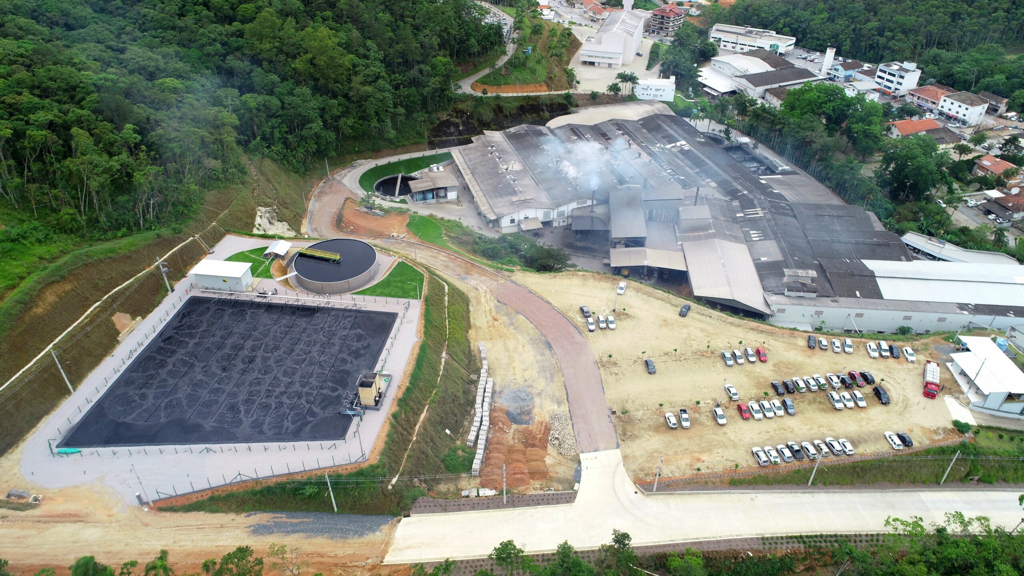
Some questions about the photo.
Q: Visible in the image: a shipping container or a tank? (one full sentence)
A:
Of the two, only a tank appears.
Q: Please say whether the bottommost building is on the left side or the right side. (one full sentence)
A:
The bottommost building is on the right side of the image.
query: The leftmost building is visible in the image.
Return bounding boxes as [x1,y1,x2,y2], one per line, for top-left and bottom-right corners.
[190,259,253,290]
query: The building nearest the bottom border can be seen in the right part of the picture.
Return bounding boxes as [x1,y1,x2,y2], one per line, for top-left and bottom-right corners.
[945,336,1024,405]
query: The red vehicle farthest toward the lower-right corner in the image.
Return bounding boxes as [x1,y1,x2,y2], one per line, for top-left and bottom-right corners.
[923,361,941,397]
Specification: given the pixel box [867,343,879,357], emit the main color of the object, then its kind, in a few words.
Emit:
white vehicle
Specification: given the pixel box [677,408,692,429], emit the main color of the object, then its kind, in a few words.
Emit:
white vehicle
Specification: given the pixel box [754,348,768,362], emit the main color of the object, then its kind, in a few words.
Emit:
red car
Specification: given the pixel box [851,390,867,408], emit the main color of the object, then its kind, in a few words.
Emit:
white car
